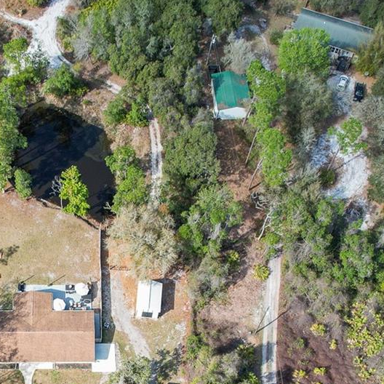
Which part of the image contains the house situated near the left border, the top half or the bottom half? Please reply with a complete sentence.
Seen from above, the house situated near the left border lies in the bottom half of the view.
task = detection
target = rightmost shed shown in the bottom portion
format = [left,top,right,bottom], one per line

[136,279,161,323]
